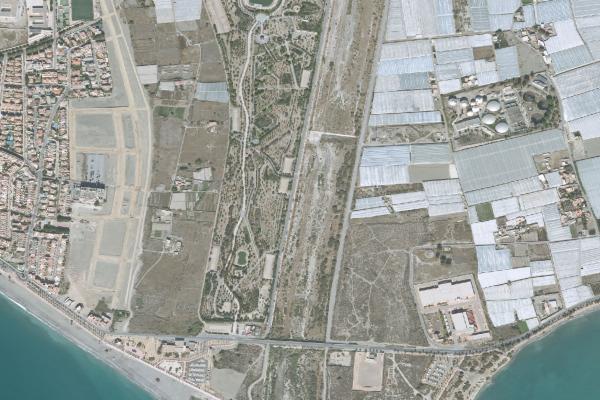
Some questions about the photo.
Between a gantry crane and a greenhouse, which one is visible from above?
greenhouse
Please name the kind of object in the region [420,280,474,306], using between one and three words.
building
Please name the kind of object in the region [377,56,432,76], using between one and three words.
greenhouse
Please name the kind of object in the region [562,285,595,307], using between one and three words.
greenhouse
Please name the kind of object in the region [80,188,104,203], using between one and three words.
building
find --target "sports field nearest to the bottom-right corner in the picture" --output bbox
[352,352,383,392]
